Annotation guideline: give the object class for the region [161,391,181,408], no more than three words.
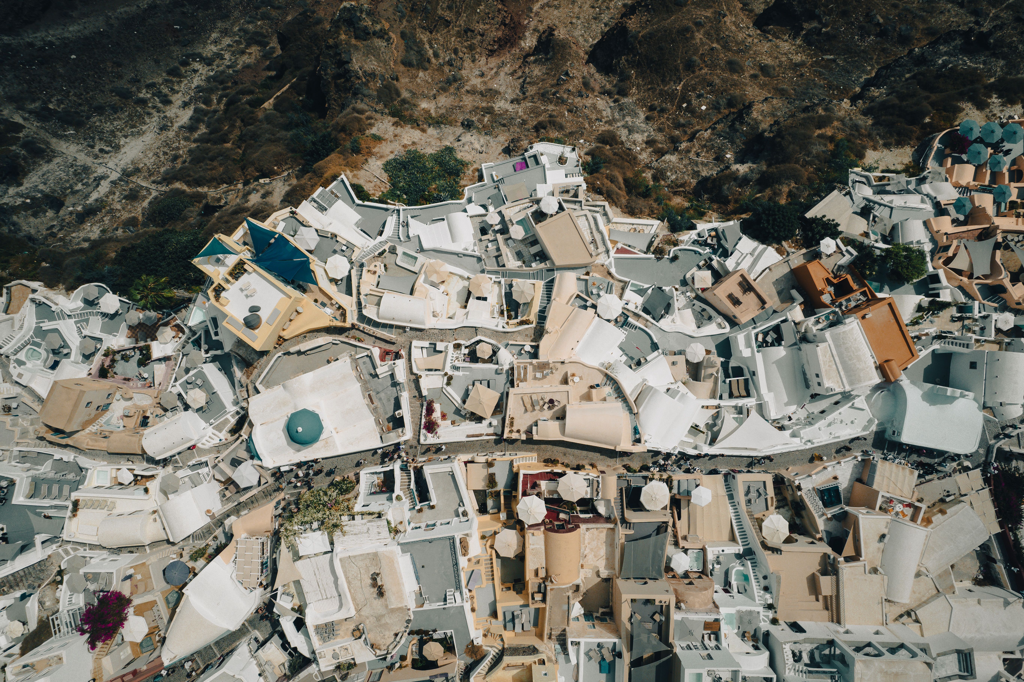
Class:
umbrella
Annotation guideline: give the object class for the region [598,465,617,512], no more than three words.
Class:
house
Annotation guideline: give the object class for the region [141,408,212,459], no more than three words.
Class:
house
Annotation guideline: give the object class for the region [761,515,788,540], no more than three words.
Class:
umbrella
